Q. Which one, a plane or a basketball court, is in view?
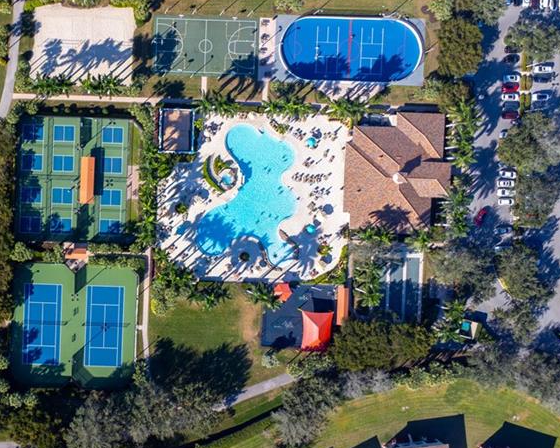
basketball court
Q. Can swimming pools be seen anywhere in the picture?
Yes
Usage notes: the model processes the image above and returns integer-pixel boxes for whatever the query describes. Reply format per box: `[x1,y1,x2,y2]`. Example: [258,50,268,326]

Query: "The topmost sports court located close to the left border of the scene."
[27,4,136,81]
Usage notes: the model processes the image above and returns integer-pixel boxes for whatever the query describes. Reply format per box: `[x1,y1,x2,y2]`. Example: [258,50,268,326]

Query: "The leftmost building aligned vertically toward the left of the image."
[80,157,95,204]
